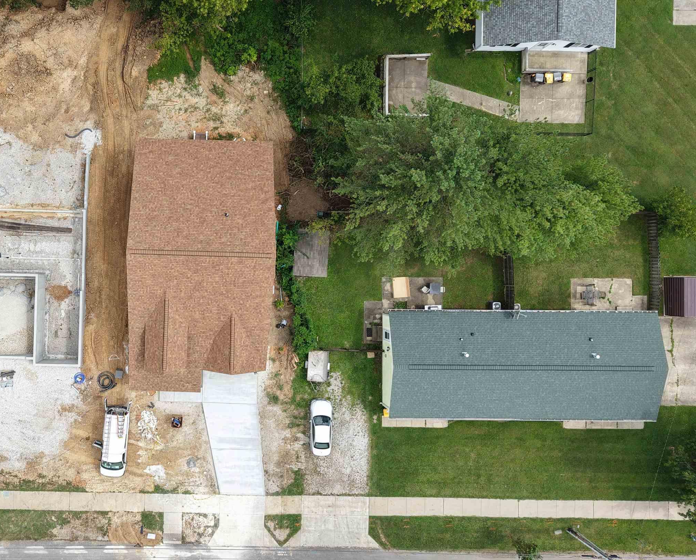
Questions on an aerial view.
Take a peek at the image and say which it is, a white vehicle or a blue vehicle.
white vehicle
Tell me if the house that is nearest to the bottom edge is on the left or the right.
right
